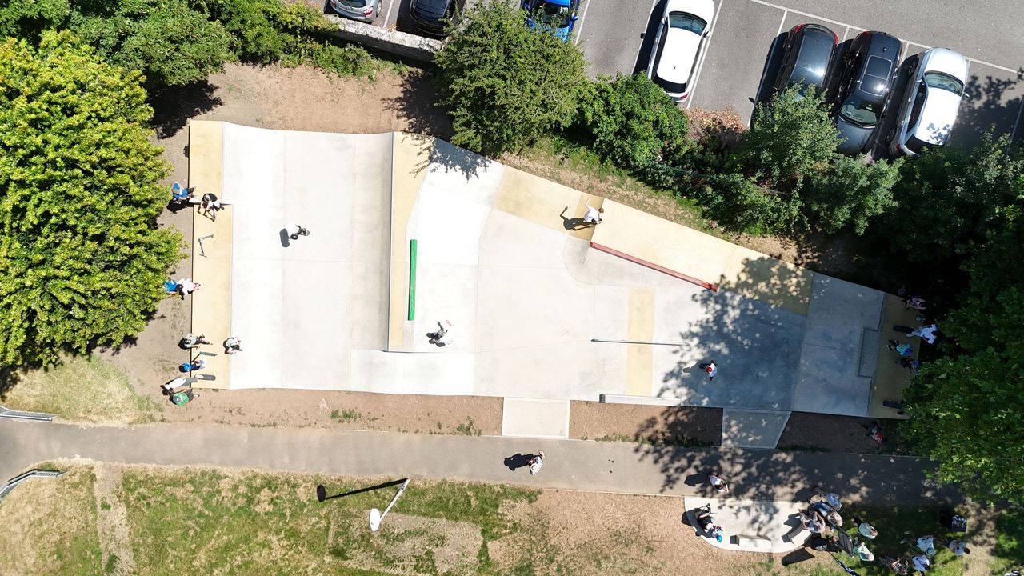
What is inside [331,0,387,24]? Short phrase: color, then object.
gray car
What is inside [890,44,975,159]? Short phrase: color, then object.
white car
